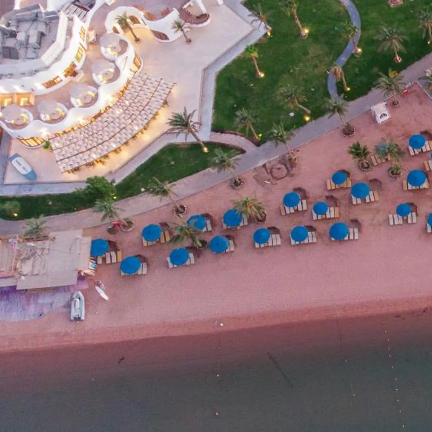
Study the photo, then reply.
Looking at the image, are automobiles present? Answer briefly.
No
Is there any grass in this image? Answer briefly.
Yes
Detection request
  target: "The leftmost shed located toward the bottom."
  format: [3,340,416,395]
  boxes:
[0,230,97,322]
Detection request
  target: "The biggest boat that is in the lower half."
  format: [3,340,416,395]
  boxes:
[70,290,86,322]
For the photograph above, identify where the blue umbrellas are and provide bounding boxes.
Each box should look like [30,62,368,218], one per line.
[332,172,348,186]
[408,135,425,150]
[407,170,426,187]
[351,183,370,199]
[291,227,308,242]
[210,236,230,254]
[313,202,328,216]
[224,210,242,227]
[91,240,110,256]
[254,228,271,244]
[120,255,142,276]
[330,224,349,241]
[284,194,300,208]
[170,249,190,266]
[143,225,162,242]
[396,204,412,218]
